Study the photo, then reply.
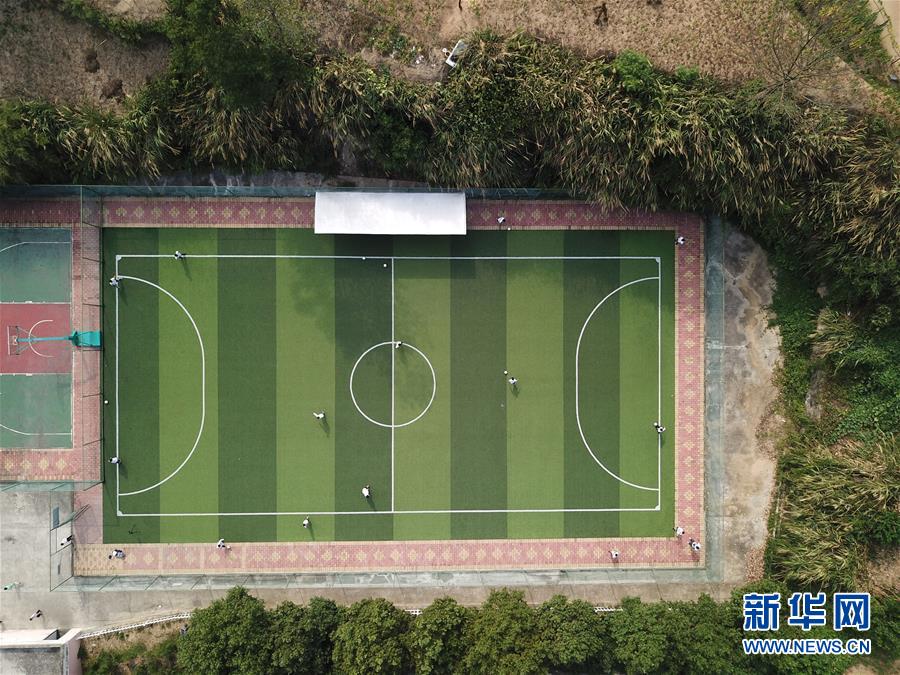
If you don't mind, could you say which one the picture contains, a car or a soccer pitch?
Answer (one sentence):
Of the two, only a soccer pitch appears.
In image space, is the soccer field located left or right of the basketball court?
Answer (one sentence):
Looking at the picture, you'll find the soccer field to the right of the basketball court.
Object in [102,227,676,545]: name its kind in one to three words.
soccer field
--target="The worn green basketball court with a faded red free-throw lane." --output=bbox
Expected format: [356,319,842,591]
[0,227,72,450]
